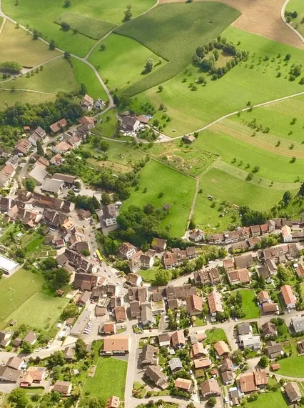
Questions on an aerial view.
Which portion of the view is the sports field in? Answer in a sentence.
The sports field appears toward the bottom left of the photo.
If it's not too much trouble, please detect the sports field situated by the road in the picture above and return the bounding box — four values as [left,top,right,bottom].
[0,269,69,332]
